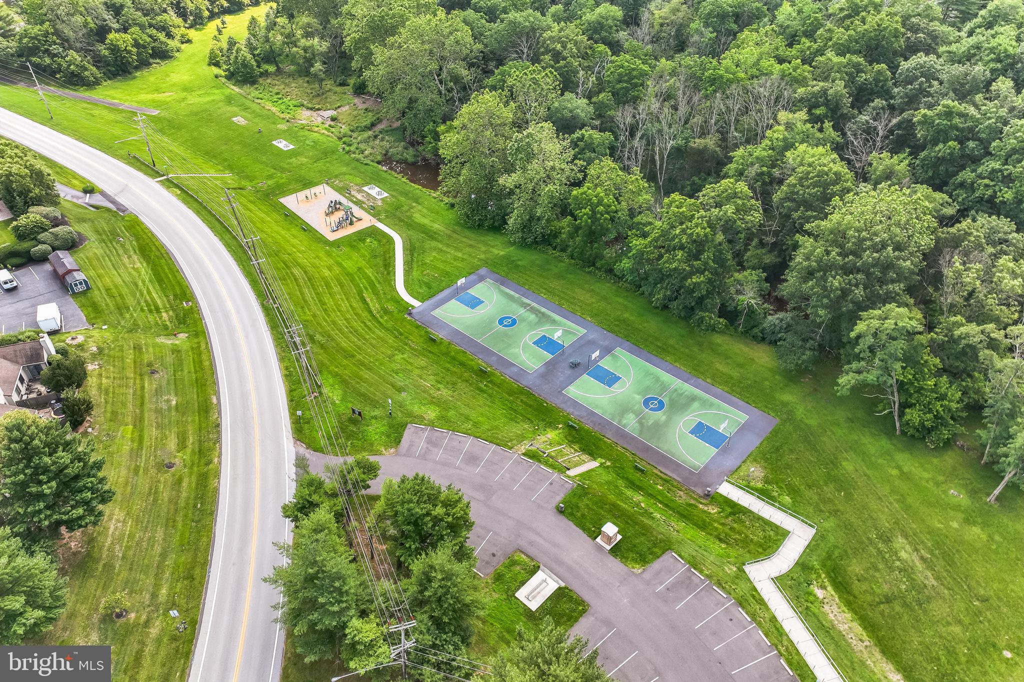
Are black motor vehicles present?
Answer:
No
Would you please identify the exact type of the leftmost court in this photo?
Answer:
basketball court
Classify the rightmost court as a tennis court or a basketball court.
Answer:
basketball court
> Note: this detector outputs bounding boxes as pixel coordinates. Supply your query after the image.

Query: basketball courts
[563,348,749,473]
[431,279,587,373]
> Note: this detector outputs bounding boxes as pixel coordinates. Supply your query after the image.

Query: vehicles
[38,298,64,329]
[0,268,16,288]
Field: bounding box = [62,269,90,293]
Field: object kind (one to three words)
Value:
shed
